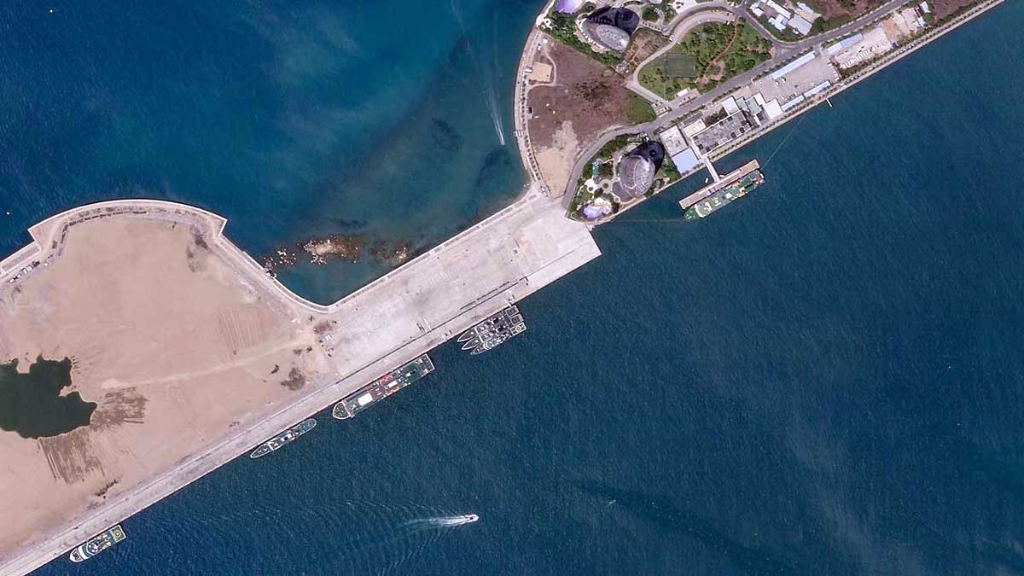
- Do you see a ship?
Yes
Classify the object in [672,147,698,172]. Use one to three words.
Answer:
building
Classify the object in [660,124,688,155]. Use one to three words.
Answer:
building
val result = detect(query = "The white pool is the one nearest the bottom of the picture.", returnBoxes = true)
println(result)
[581,197,612,219]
